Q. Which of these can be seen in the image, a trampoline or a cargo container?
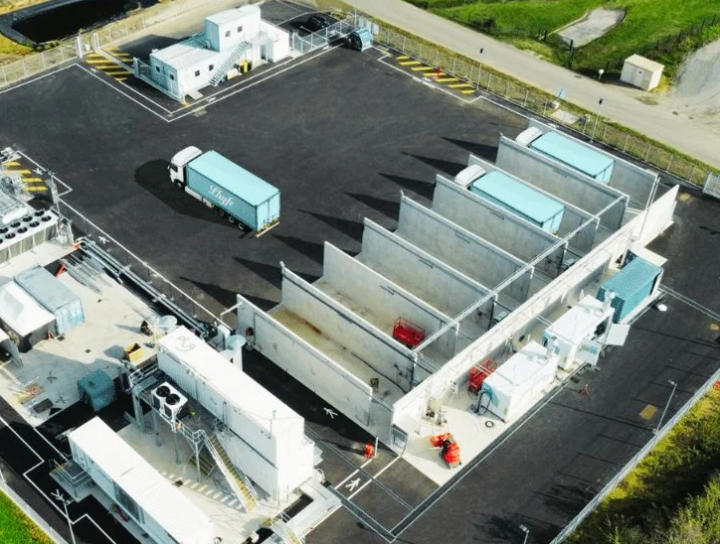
cargo container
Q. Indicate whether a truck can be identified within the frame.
Yes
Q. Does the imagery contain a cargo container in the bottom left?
Yes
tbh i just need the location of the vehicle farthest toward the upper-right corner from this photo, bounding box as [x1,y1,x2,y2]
[514,126,615,184]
